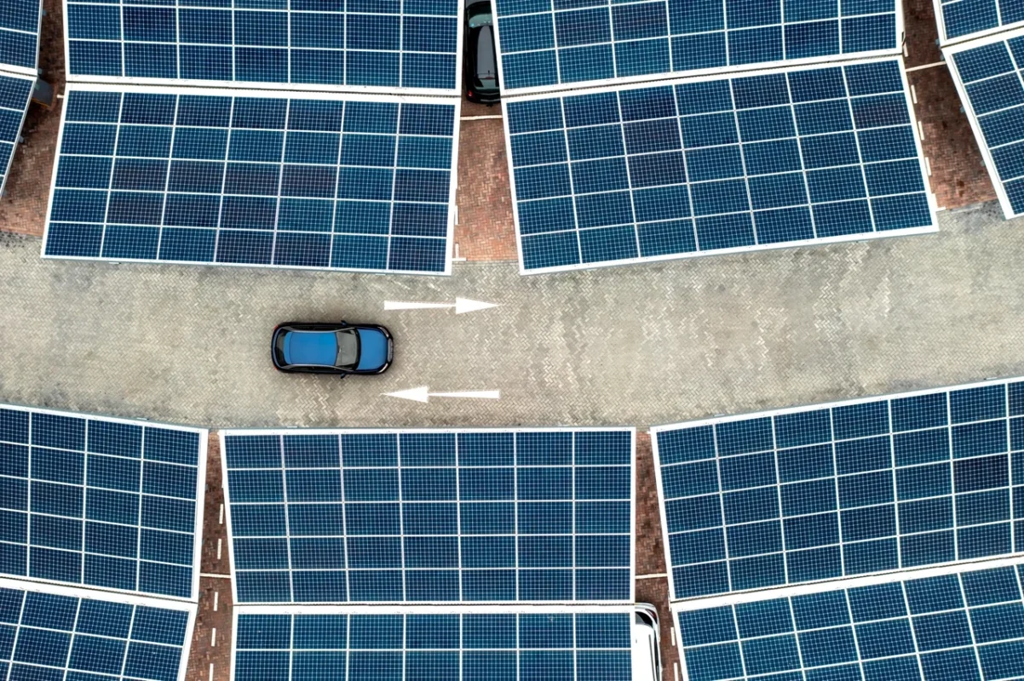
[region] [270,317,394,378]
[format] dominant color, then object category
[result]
blue car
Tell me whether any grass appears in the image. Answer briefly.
No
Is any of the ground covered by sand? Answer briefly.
No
